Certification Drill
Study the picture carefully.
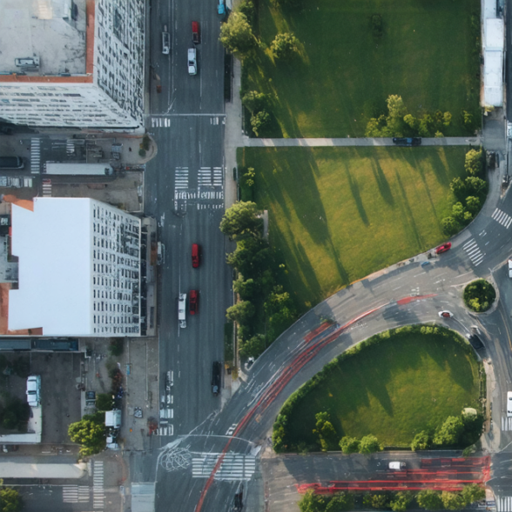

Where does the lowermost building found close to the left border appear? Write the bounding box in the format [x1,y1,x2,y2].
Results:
[0,196,155,337]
